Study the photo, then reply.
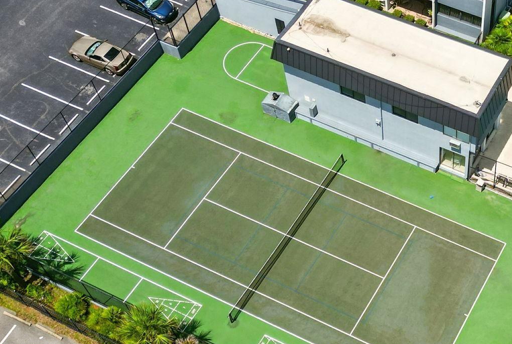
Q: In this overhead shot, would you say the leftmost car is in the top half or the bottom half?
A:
top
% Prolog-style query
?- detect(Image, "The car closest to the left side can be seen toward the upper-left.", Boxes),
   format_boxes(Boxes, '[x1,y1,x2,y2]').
[70,8,133,45]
